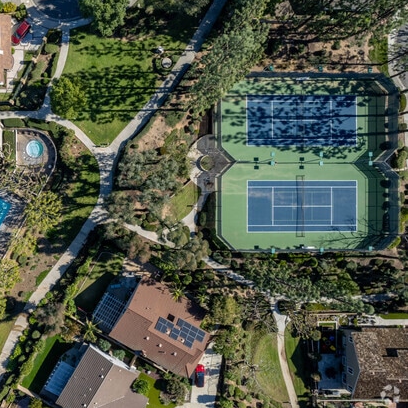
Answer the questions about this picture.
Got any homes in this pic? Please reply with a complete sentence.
Yes, you can see a home in this photo.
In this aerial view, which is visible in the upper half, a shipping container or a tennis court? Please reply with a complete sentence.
Visible in the upper half is a tennis court.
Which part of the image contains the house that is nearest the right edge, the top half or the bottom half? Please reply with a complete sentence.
You can find the house that is nearest the right edge in the bottom half.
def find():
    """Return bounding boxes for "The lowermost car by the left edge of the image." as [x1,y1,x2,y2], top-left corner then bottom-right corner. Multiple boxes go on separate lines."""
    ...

[13,21,32,46]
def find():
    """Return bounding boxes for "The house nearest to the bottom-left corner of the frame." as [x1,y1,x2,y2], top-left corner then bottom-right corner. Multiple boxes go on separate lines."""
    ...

[49,340,150,408]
